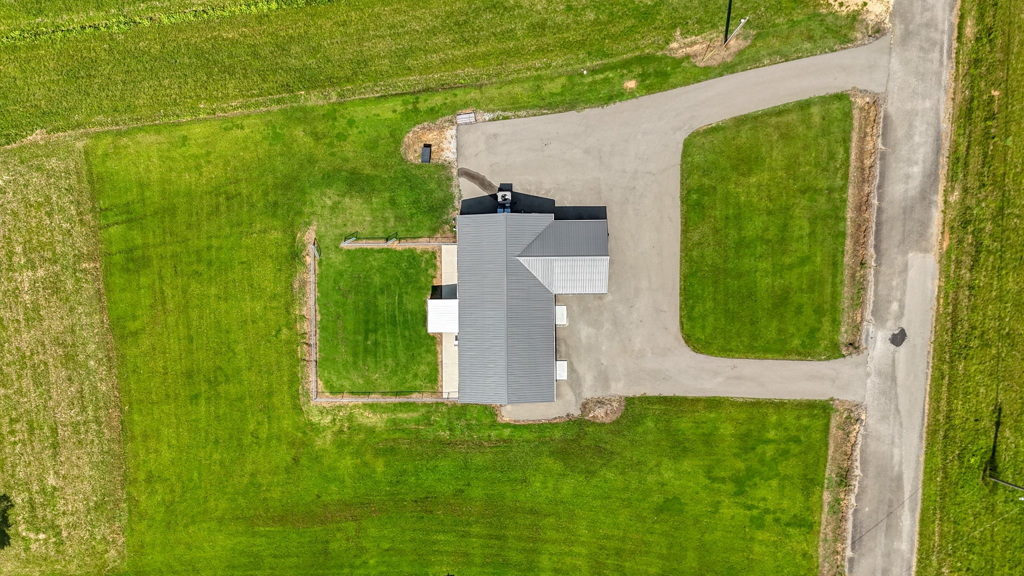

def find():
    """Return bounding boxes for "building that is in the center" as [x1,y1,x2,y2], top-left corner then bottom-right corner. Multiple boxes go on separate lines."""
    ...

[457,213,609,405]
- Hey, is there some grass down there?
Yes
